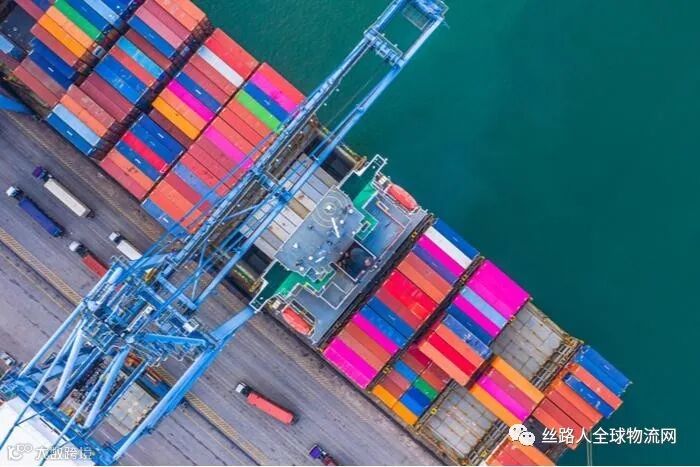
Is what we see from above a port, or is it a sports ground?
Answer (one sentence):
This looks like a port.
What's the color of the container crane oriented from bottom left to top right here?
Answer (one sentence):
The container crane oriented from bottom left to top right looks blue in the image.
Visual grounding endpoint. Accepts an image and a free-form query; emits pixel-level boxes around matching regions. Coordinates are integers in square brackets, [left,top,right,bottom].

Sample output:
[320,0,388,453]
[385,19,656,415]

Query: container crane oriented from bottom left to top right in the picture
[0,0,458,467]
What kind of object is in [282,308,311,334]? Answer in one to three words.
boat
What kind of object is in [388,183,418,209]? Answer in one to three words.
boat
